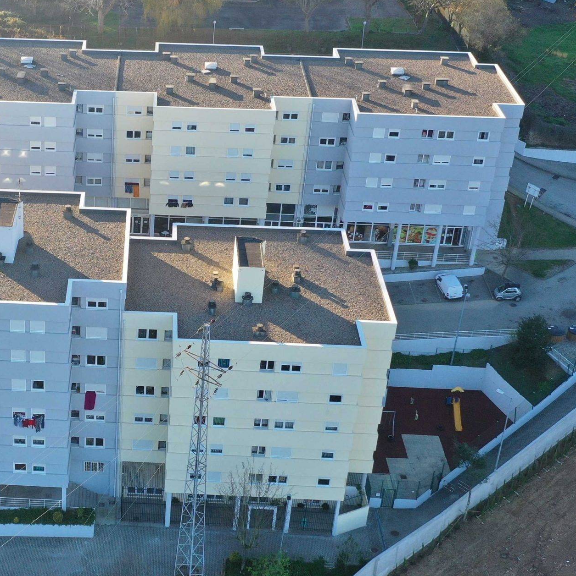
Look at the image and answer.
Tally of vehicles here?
2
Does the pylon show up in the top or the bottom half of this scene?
bottom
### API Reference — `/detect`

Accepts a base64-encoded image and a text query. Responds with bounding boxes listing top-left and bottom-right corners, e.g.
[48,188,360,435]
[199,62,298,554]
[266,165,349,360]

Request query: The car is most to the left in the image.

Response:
[436,273,465,298]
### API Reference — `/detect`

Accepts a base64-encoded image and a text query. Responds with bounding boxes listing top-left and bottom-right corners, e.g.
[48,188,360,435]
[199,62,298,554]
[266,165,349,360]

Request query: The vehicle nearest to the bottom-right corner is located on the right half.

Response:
[493,281,522,301]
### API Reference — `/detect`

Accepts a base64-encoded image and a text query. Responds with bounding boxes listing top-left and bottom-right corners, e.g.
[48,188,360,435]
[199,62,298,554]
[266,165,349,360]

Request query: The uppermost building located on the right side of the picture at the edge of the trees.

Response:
[298,48,524,262]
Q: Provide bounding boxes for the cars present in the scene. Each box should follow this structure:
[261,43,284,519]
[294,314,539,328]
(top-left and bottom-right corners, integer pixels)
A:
[493,281,522,301]
[436,273,465,298]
